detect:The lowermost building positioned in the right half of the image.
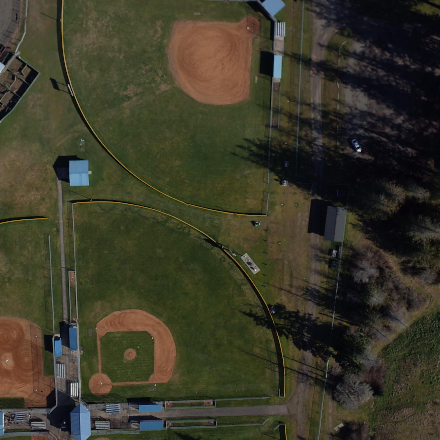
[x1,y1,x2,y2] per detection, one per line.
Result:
[323,206,346,242]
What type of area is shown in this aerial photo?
sports ground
